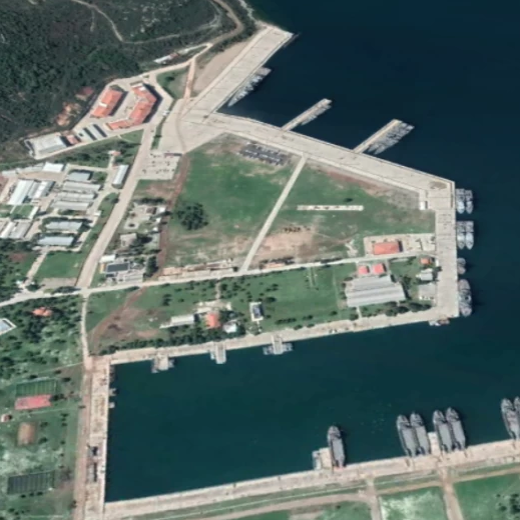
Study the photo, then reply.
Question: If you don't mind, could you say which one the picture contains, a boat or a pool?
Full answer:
The one in the frame is a boat.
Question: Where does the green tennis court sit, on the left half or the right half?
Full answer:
It is on the left.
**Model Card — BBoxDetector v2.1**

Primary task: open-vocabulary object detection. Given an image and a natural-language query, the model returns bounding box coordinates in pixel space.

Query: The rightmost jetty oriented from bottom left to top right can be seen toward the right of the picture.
[354,119,401,153]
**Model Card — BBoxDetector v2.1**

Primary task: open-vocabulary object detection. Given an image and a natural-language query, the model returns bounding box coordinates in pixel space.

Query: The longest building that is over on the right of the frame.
[346,277,406,312]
